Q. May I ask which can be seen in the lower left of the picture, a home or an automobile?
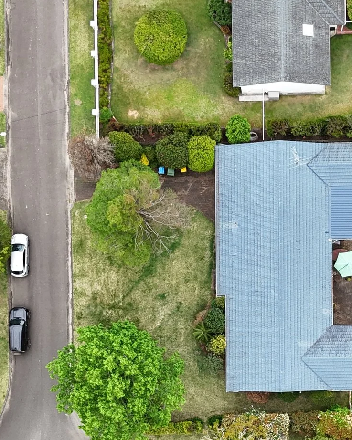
automobile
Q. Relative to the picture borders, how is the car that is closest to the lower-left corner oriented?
from top to bottom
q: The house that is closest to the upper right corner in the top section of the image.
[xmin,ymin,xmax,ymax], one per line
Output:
[230,0,345,88]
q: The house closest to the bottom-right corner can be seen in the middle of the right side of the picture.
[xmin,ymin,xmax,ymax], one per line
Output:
[216,140,352,393]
